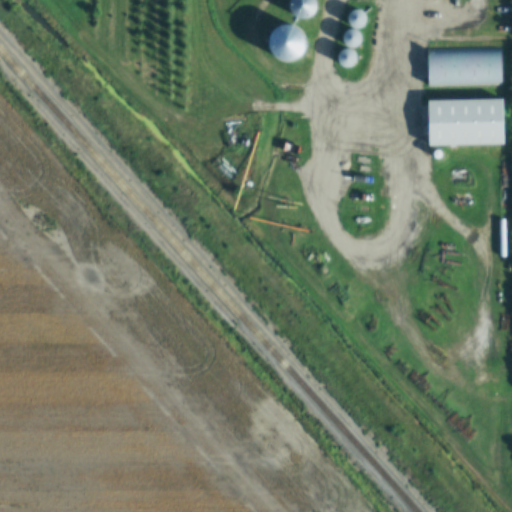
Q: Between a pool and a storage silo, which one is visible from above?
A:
storage silo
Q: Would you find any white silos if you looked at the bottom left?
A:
No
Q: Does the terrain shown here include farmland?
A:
Yes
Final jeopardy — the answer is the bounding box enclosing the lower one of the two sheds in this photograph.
[428,98,506,146]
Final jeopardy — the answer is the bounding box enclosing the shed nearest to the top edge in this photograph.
[428,48,504,86]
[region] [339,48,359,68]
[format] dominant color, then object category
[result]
white silo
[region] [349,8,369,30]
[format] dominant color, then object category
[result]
white silo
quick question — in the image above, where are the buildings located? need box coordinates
[428,48,504,86]
[428,98,506,146]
